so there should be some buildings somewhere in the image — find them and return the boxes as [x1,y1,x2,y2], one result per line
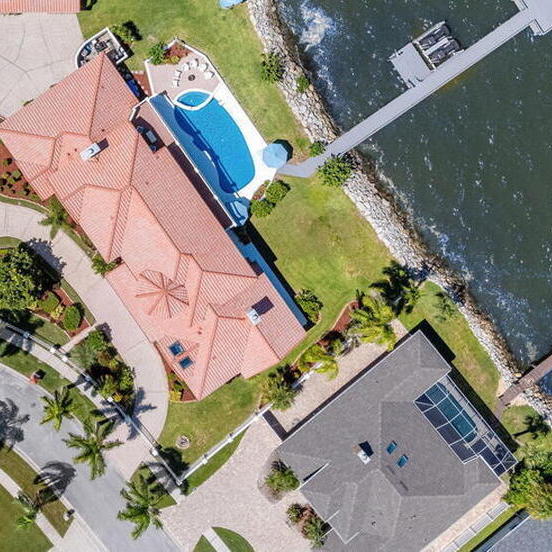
[0,52,306,401]
[468,504,552,552]
[276,327,502,552]
[0,0,80,15]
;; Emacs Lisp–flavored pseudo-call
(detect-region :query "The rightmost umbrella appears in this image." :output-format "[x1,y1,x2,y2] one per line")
[263,143,287,167]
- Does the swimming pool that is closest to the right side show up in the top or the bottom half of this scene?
bottom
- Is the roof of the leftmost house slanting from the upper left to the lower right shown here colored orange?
No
